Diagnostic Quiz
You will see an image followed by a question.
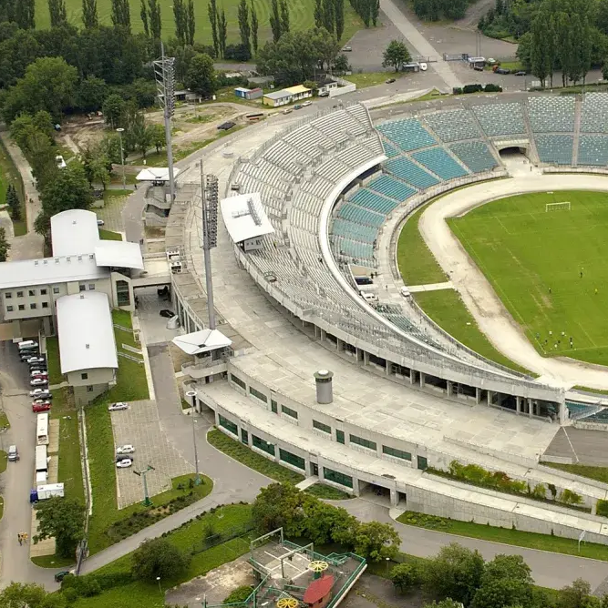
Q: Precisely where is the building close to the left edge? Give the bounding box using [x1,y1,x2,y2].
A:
[0,208,173,393]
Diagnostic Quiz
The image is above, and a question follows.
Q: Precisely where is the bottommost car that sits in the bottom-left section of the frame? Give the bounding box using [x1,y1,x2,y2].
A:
[50,567,73,581]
